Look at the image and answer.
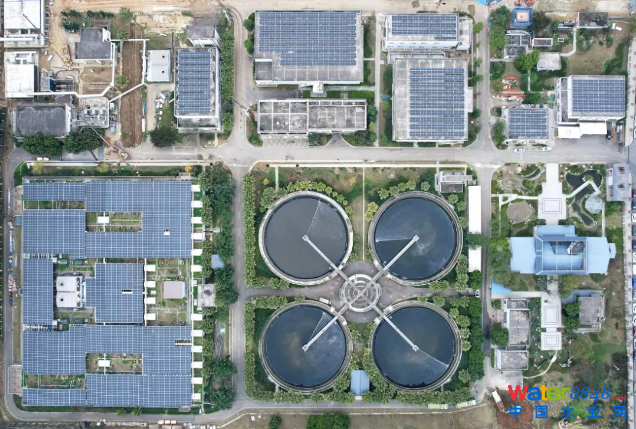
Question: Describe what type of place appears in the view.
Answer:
industrial area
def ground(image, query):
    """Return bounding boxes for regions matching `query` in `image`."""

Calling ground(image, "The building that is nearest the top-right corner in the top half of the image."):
[575,12,608,30]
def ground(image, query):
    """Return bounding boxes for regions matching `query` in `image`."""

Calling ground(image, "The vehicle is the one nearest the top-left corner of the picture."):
[52,42,73,66]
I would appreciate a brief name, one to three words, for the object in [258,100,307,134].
building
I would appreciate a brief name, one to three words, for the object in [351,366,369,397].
shed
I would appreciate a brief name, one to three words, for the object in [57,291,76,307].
building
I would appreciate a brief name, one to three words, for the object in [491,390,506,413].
vehicle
